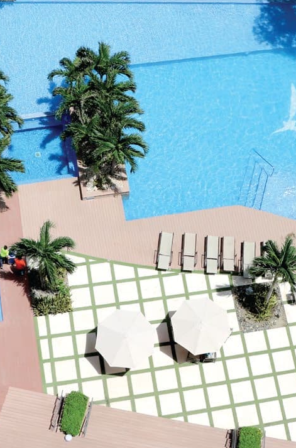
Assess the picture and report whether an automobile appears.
No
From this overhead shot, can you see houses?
No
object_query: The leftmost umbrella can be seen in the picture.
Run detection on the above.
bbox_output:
[95,311,157,372]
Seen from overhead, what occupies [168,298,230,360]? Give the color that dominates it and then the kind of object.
white umbrella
